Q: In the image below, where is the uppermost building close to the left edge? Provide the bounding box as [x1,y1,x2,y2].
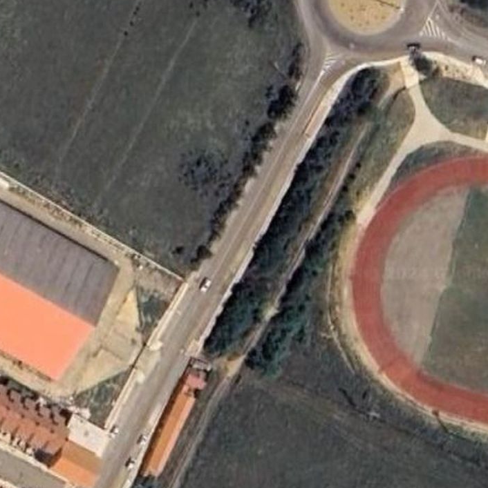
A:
[0,203,118,382]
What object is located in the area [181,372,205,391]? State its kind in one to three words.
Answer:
shed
